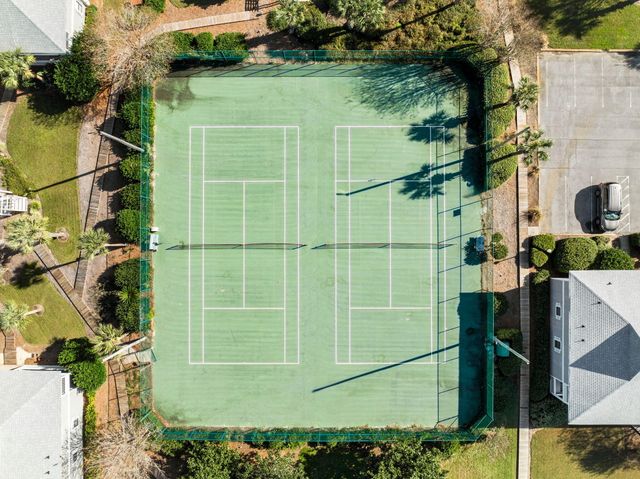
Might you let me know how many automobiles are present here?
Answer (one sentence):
Altogether the scene contains 1 automobile.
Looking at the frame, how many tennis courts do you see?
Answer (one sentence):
The photo contains 2 tennis courts.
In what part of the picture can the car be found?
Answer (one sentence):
You can find the car in the right area of the picture.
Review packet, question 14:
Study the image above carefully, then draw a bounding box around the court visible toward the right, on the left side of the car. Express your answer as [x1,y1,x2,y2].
[317,63,481,427]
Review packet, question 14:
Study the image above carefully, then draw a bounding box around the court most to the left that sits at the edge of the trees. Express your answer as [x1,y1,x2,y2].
[154,63,317,427]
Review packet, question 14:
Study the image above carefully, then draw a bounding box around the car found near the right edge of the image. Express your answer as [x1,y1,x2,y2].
[594,182,622,232]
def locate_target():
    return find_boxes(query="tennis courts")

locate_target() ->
[154,63,317,427]
[317,63,481,427]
